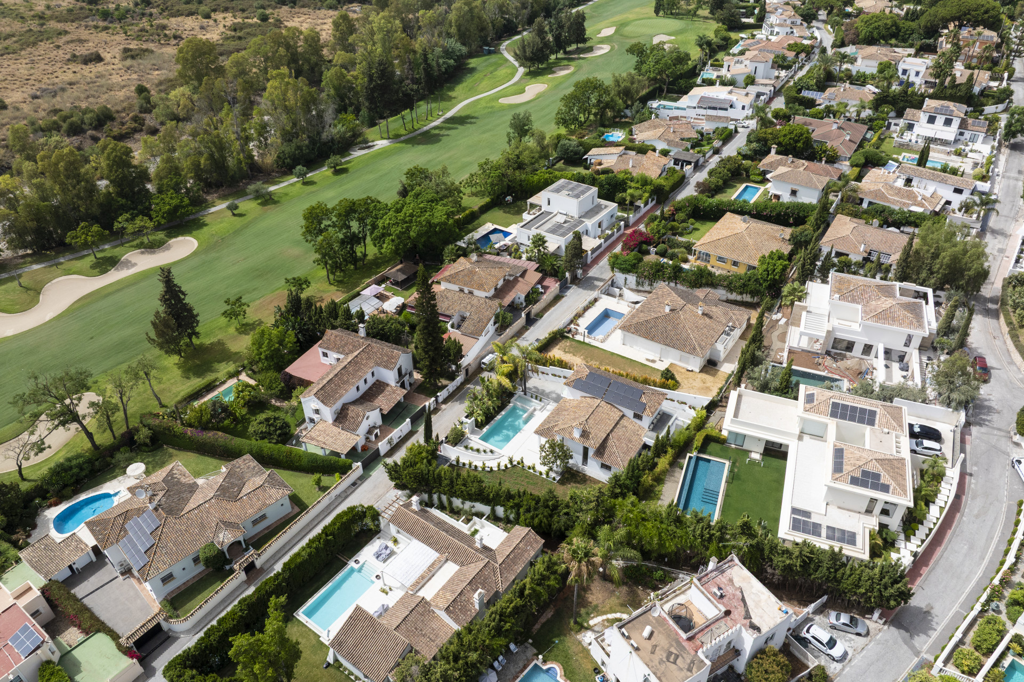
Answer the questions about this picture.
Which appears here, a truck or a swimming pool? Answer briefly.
swimming pool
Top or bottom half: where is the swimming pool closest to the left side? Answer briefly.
bottom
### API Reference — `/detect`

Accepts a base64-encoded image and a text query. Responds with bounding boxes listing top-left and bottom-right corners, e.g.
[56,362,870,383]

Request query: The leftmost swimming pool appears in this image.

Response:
[47,485,131,538]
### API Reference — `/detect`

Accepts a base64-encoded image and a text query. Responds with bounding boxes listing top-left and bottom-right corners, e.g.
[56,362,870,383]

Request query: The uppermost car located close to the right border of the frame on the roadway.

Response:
[971,355,992,381]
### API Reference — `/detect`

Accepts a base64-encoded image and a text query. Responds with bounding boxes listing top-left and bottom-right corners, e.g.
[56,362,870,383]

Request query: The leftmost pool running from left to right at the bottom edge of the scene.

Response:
[511,656,567,682]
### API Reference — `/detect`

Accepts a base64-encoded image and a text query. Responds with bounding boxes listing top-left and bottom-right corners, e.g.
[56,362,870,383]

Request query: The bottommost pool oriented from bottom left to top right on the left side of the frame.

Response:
[294,553,384,636]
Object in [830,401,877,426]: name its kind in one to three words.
solar array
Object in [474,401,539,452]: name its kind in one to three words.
swimming pool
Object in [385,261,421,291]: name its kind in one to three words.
gazebo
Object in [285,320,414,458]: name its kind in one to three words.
house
